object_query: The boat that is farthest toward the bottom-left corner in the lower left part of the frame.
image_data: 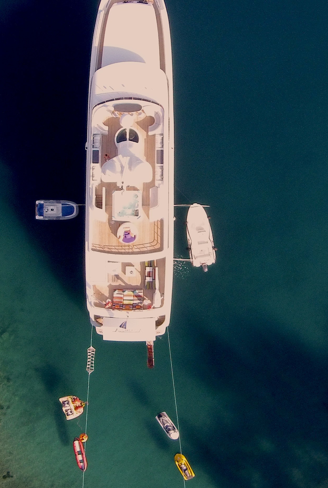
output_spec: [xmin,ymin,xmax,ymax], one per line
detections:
[73,436,88,471]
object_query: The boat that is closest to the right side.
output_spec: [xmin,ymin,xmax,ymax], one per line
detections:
[188,204,219,271]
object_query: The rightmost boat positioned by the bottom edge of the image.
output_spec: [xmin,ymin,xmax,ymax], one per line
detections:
[176,452,194,480]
